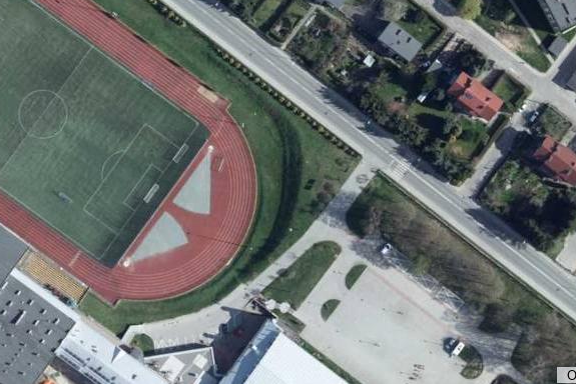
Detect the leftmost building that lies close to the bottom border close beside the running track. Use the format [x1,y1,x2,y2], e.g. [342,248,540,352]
[0,278,75,384]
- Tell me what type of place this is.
sports ground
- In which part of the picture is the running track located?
left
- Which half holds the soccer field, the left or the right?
left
